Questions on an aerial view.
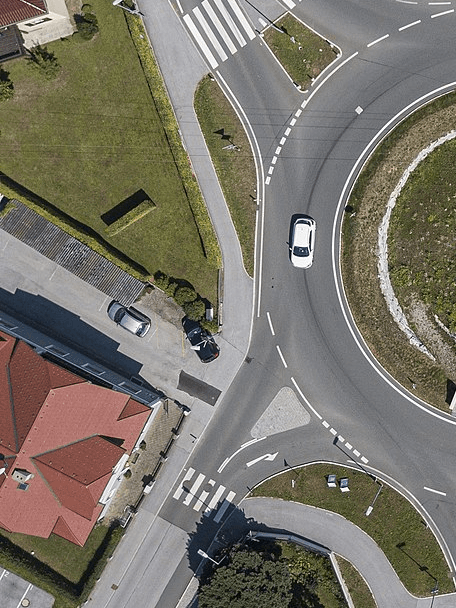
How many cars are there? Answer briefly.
3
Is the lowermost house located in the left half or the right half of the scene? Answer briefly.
left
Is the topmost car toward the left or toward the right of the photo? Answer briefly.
right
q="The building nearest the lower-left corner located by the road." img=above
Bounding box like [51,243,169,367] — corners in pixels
[0,313,162,546]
